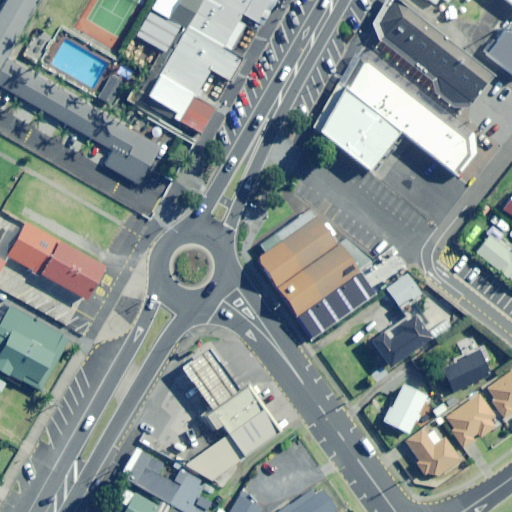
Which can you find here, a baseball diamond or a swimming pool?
swimming pool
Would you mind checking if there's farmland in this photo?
No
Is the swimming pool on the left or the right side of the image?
left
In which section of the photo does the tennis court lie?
top left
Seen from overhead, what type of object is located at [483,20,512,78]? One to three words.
building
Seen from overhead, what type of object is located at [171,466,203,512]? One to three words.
house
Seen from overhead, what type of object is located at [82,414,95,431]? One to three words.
vehicle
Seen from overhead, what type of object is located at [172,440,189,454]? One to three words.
vehicle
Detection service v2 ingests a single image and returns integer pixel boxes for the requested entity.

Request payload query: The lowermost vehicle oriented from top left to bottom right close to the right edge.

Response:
[496,218,510,234]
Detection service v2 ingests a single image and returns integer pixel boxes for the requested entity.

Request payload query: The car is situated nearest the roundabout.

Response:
[201,282,216,298]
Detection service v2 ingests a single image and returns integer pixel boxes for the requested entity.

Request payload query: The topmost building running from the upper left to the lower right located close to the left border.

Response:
[0,56,158,184]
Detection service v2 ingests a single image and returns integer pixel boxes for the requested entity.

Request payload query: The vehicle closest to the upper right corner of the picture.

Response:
[444,6,456,21]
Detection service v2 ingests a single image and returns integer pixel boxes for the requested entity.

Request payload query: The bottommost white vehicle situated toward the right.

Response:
[357,436,376,458]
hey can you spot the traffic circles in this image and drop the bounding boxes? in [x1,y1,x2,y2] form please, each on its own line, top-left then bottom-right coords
[170,244,215,289]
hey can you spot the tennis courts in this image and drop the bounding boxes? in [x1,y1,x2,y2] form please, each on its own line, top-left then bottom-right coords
[73,0,142,50]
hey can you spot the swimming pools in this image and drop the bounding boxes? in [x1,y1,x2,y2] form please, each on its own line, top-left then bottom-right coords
[42,29,116,98]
